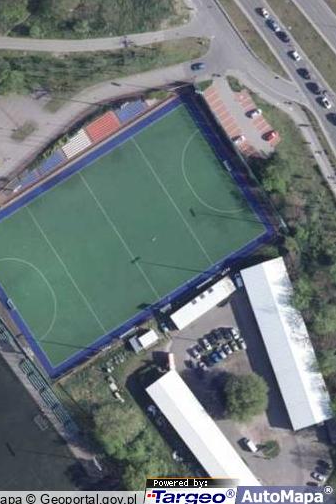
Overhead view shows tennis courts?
No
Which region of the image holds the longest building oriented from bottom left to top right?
center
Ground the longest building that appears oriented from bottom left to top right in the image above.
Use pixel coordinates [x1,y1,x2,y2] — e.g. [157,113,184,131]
[170,277,237,330]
